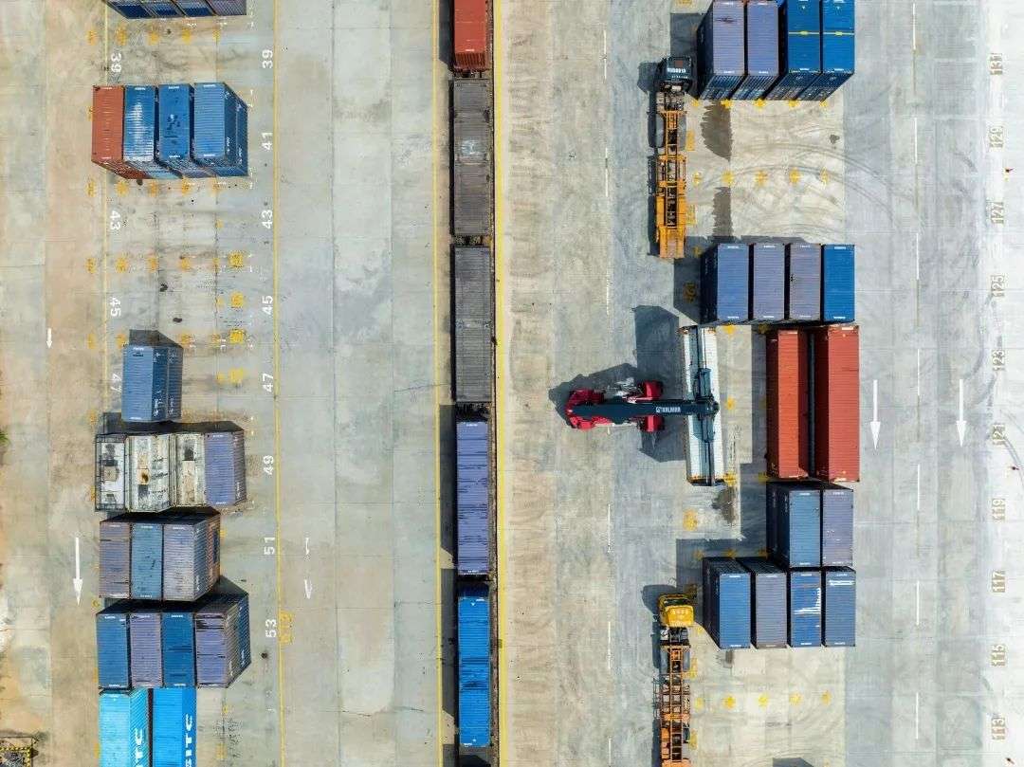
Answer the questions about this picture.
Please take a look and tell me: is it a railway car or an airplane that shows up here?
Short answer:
railway car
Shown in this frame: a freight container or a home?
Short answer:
freight container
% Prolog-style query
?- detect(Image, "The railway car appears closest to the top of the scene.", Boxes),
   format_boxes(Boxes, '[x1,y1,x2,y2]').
[455,0,490,79]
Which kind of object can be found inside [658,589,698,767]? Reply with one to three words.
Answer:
truck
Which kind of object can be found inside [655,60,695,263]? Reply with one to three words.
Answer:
truck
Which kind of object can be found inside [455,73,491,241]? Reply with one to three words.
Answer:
rail car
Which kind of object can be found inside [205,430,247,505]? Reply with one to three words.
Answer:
shipping container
